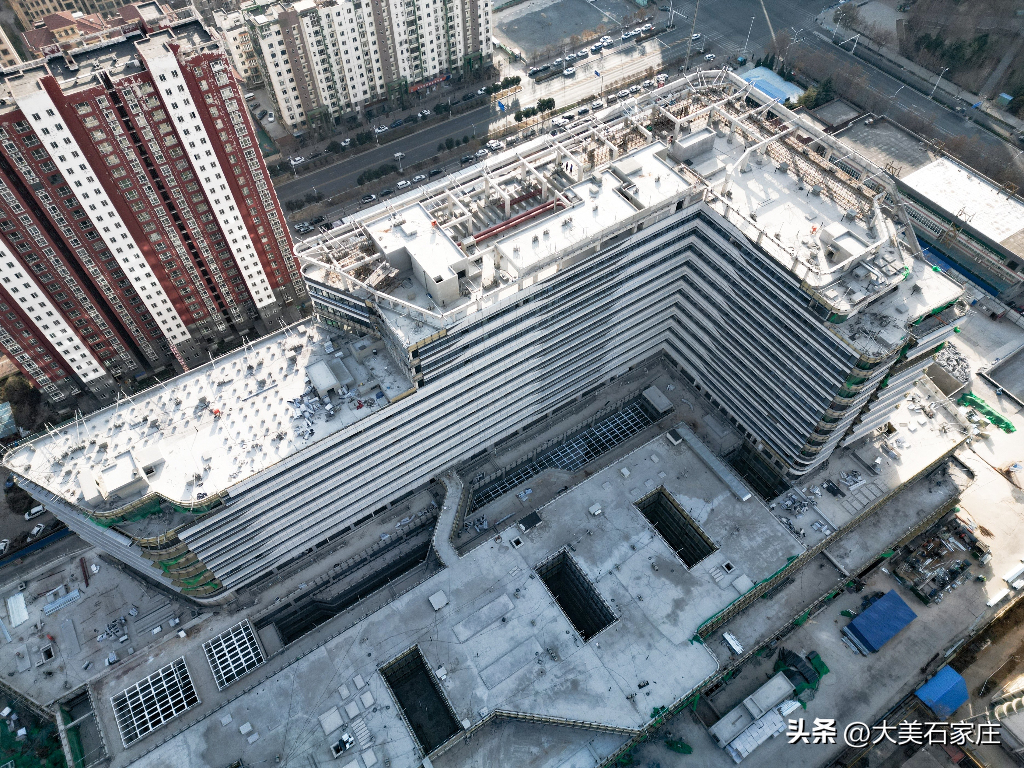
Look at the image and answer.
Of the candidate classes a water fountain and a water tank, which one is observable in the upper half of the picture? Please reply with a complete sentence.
What appears in the upper half of the picture is a water tank.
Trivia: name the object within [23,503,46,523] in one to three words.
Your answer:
car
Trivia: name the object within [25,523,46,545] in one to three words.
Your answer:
car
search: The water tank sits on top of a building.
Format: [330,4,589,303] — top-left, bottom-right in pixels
[664,122,718,169]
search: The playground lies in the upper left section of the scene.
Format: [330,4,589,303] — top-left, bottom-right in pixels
[247,116,276,159]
